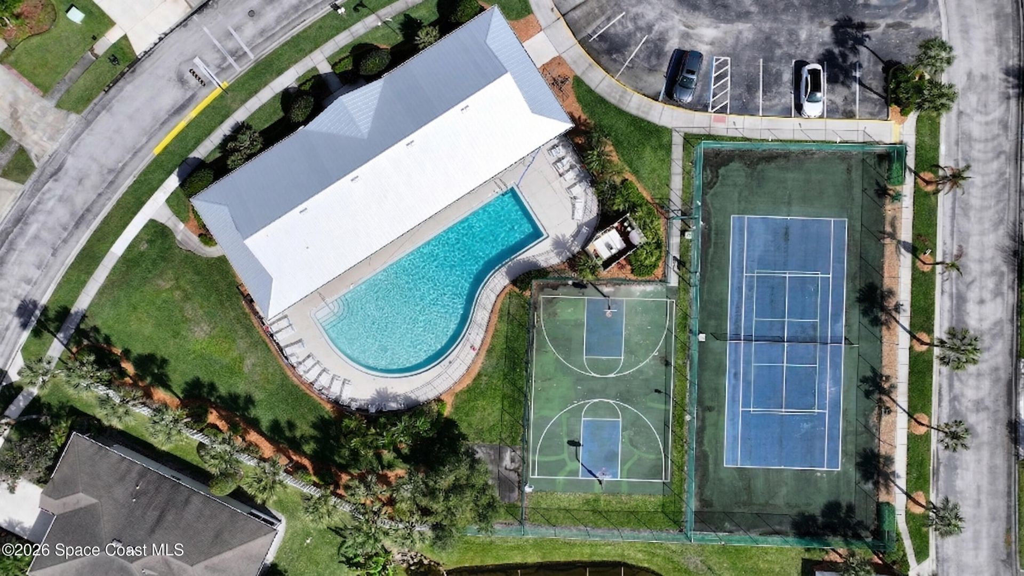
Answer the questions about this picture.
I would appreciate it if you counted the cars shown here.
2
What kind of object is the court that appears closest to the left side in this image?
basketball court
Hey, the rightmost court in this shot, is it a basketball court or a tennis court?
tennis court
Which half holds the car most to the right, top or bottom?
top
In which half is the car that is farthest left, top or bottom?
top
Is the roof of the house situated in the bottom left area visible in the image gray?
Yes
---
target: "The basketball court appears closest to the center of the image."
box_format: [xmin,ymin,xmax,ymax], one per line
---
[526,282,677,497]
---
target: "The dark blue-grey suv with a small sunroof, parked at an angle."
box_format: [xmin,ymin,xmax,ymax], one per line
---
[671,48,702,104]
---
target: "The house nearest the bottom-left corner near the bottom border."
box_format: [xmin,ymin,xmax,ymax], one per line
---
[27,431,283,576]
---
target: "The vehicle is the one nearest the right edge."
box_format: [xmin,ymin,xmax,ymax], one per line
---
[799,64,826,118]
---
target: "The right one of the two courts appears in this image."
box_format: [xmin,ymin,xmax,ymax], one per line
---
[690,151,886,537]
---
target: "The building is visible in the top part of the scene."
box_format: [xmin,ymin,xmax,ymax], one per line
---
[190,5,574,322]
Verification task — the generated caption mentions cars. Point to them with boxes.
[799,64,826,118]
[671,48,702,104]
